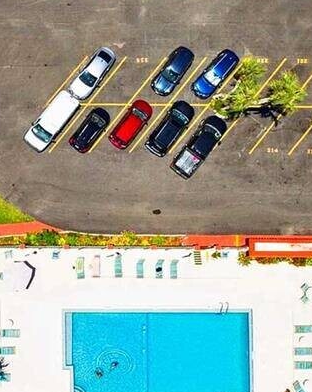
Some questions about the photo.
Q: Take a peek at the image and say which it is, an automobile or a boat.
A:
automobile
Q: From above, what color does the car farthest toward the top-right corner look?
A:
blue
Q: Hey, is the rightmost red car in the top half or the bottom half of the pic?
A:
top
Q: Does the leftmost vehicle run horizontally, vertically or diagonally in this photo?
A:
diagonally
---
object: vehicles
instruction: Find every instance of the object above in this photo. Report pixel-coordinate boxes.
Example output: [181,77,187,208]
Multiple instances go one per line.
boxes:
[190,47,240,101]
[148,42,197,99]
[168,116,226,182]
[69,45,118,102]
[66,105,111,156]
[26,90,80,152]
[143,101,193,158]
[105,99,152,152]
